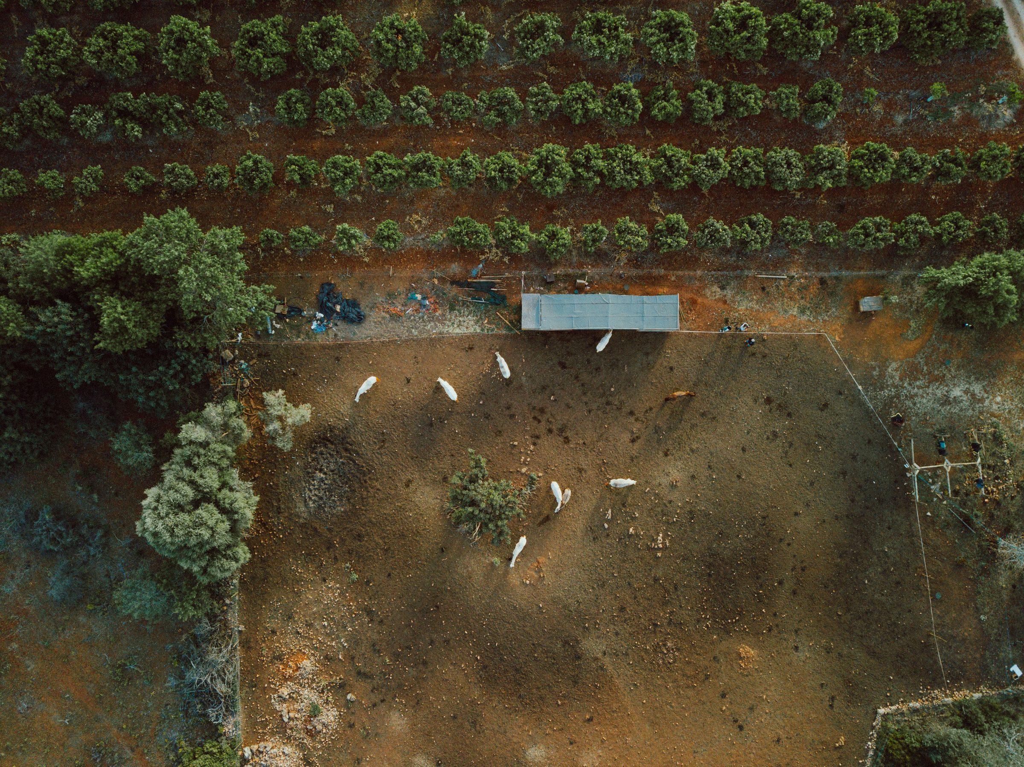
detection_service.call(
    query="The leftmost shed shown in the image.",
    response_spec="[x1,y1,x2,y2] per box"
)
[522,293,679,333]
